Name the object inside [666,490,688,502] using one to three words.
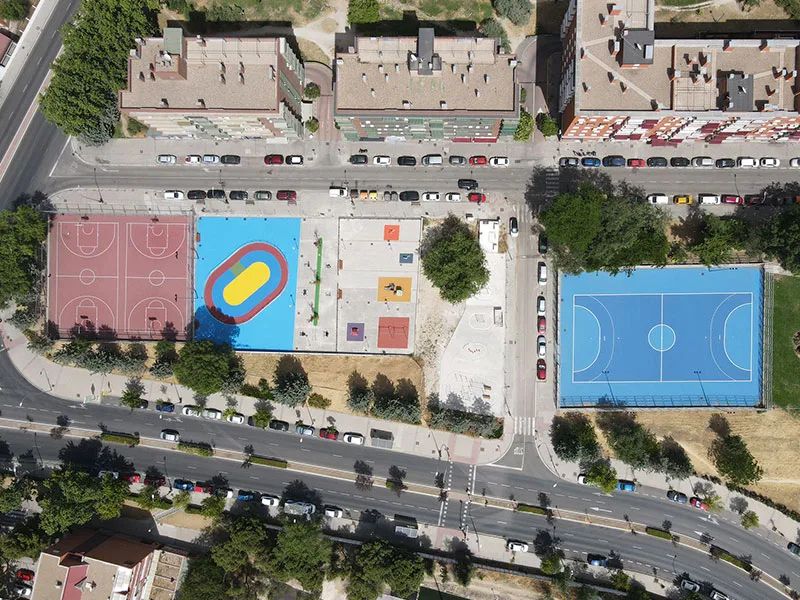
vehicle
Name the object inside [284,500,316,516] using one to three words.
vehicle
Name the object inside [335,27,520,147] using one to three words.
building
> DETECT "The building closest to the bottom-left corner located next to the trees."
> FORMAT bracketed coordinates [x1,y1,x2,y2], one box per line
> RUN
[29,533,158,600]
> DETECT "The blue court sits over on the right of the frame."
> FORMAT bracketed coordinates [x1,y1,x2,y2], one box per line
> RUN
[559,264,764,407]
